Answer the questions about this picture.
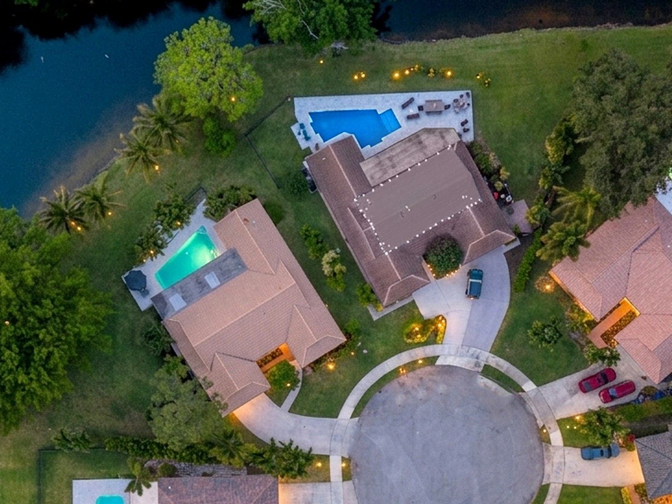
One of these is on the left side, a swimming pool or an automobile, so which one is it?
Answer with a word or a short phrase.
swimming pool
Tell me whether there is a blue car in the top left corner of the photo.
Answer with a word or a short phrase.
No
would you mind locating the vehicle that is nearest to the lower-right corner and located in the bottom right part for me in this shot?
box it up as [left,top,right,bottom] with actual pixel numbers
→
[577,444,621,462]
